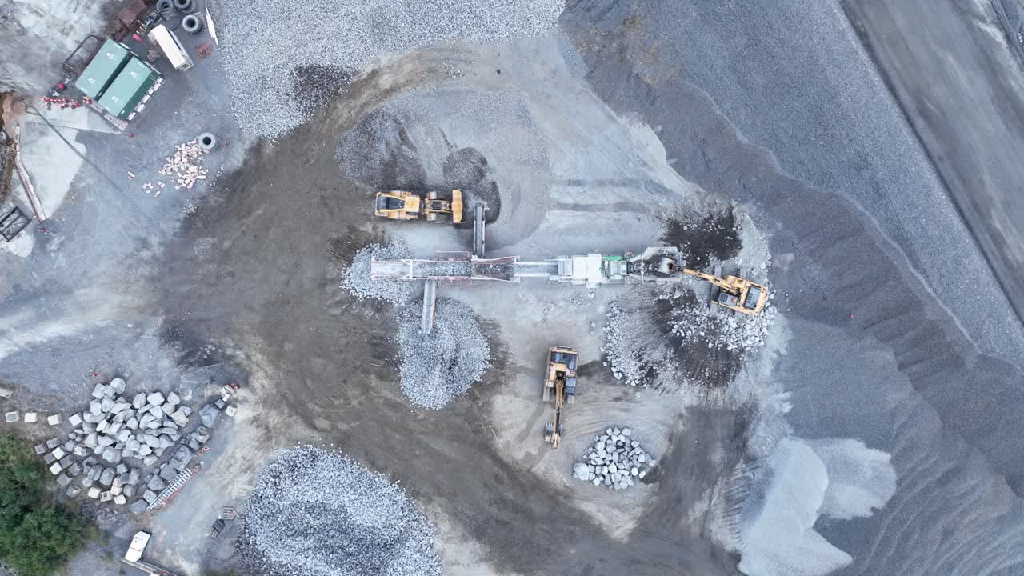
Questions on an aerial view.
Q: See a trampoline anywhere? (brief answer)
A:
No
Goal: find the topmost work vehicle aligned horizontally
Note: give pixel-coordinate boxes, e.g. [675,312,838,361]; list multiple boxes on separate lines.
[375,189,466,223]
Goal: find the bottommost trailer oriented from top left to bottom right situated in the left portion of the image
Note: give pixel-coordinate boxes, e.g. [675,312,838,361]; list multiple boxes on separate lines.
[148,25,193,73]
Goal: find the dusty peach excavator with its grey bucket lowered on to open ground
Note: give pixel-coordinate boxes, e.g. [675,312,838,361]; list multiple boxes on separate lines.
[544,346,578,450]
